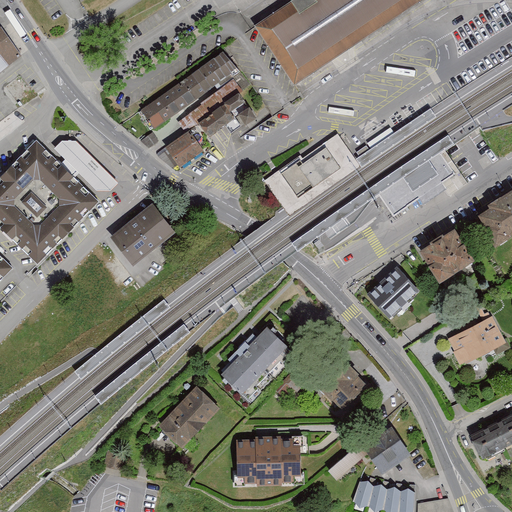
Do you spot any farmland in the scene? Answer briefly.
No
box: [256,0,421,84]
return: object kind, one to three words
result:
building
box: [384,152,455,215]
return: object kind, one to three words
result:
building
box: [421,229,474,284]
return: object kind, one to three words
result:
house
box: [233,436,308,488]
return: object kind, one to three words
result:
house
